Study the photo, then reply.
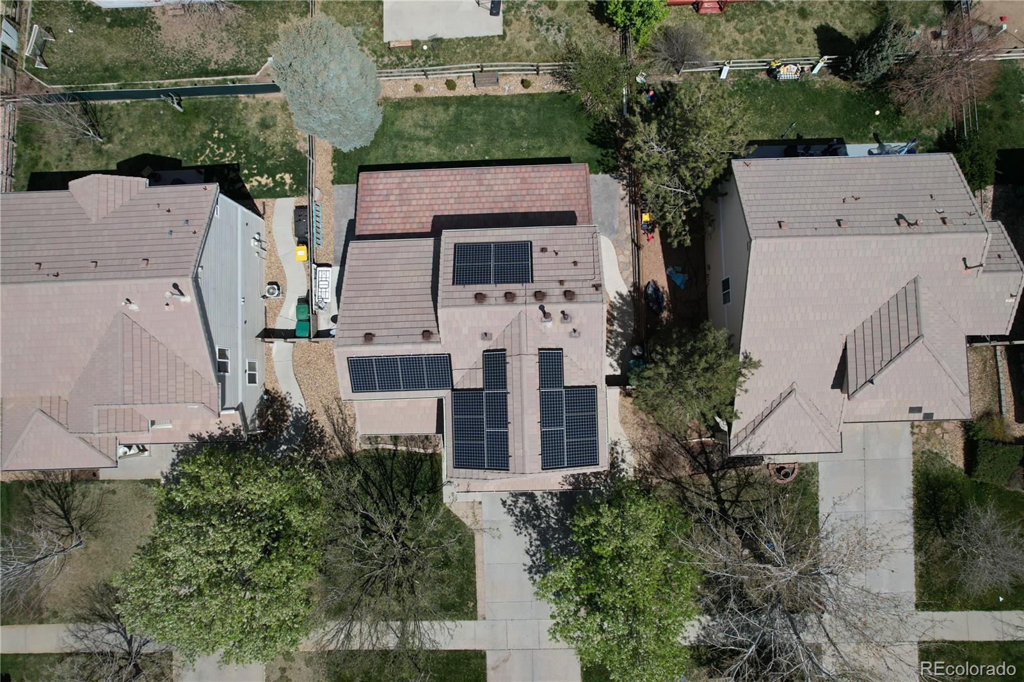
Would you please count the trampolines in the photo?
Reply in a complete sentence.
I count no trampolines.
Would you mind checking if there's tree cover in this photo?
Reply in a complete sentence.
Yes, there's tree cover in this view.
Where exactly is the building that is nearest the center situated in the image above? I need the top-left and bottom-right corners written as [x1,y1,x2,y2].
[335,162,612,496]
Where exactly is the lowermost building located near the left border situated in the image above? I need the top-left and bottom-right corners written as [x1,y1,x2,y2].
[0,171,267,474]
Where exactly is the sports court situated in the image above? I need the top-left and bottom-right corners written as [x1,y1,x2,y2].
[384,0,503,41]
